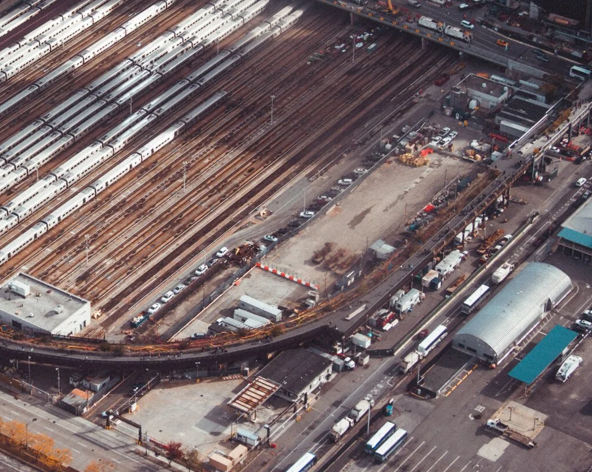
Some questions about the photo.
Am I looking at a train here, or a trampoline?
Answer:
train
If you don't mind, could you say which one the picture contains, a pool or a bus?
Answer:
bus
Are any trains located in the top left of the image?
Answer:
Yes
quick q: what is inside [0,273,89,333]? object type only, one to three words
building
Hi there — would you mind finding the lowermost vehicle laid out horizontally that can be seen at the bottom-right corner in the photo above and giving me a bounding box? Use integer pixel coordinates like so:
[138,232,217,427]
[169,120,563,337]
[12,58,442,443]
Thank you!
[488,425,533,440]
